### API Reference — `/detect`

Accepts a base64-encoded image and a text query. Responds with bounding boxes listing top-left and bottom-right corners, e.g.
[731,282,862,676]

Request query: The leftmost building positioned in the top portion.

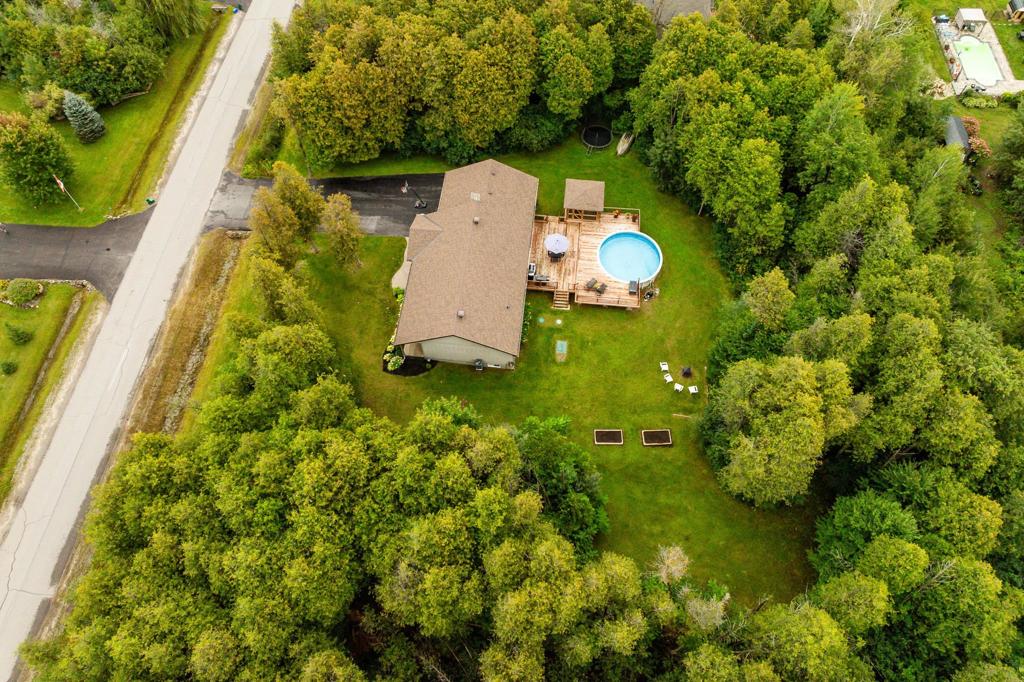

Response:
[392,160,540,368]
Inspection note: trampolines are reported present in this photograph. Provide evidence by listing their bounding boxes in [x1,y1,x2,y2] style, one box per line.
[582,119,614,151]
